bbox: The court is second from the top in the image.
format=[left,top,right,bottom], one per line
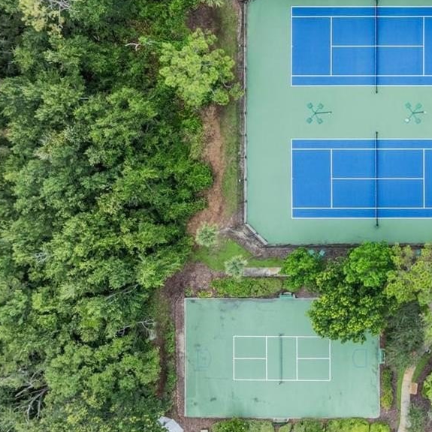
[291,131,432,228]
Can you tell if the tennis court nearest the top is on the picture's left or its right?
right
